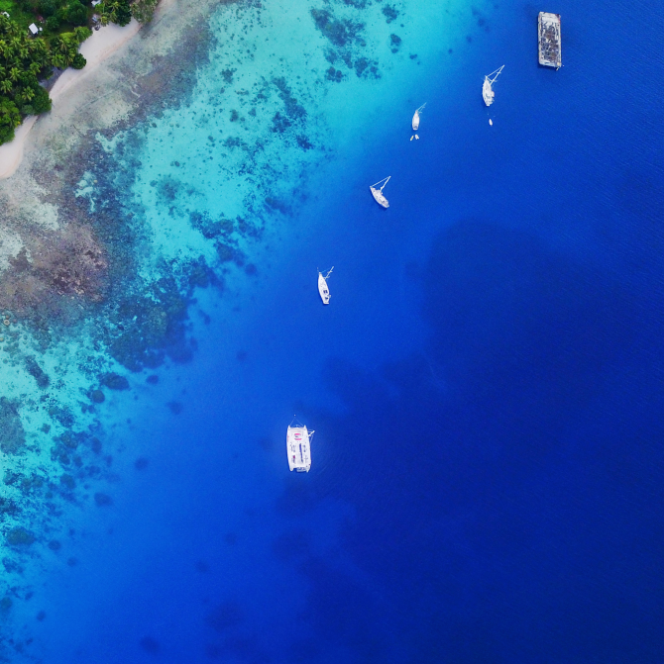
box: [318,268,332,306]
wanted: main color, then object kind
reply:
white boat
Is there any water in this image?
Yes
